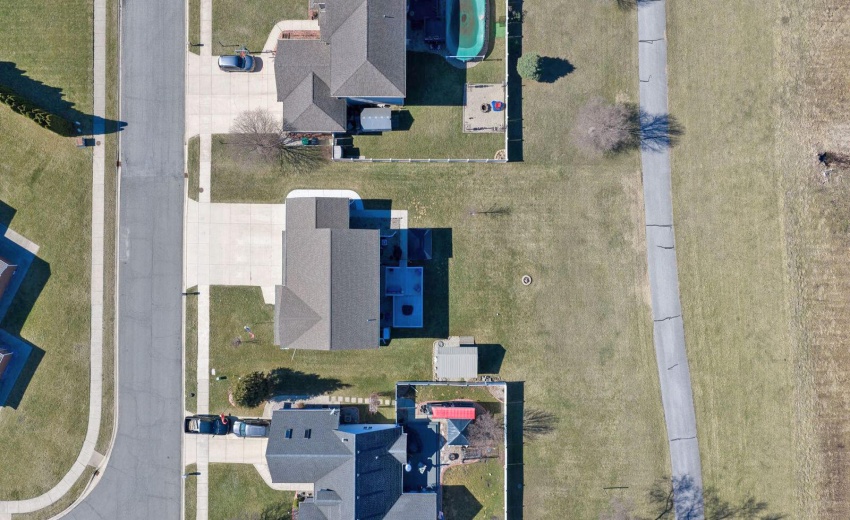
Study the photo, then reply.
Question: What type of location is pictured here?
residential area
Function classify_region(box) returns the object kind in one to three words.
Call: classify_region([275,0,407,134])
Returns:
house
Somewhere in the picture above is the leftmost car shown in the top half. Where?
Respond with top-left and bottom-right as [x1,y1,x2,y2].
[219,54,256,72]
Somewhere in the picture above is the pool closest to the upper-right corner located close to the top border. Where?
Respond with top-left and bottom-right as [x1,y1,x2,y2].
[448,0,489,63]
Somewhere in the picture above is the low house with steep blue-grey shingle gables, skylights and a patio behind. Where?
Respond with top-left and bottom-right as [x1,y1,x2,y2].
[266,407,437,520]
